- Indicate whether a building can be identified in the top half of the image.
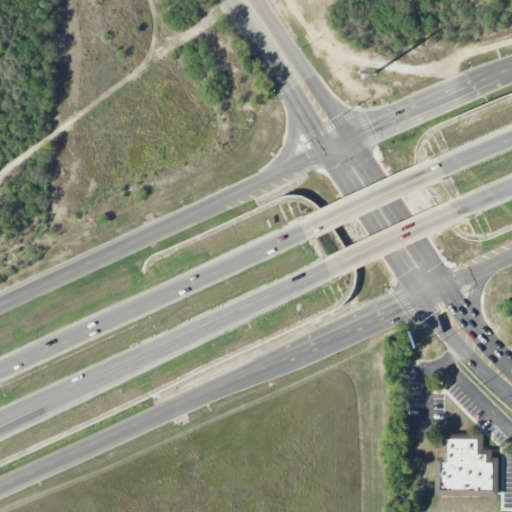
No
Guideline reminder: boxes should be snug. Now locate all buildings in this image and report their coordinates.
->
[436,434,498,496]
